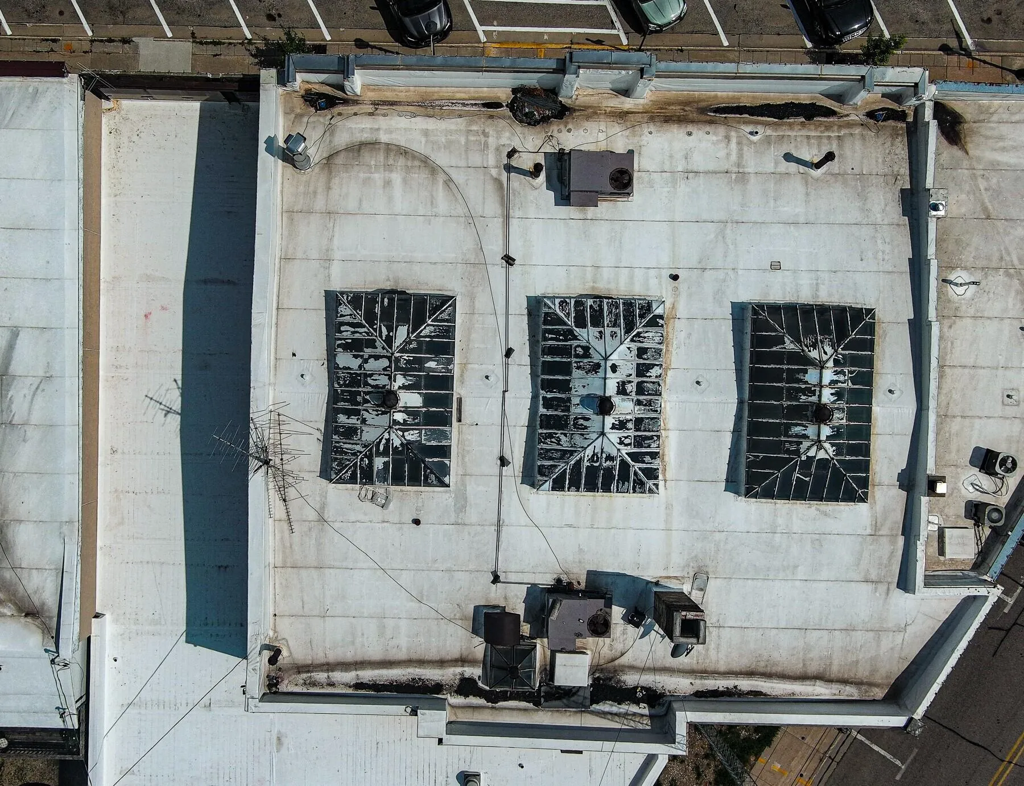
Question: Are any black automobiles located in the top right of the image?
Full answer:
Yes, a black automobile is visible in the top right of the image.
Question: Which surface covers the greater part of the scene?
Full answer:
What you mostly see from above here is buildings.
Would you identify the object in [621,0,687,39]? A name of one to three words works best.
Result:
car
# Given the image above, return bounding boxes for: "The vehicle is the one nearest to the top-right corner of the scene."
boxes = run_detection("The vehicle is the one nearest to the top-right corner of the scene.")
[795,0,869,50]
